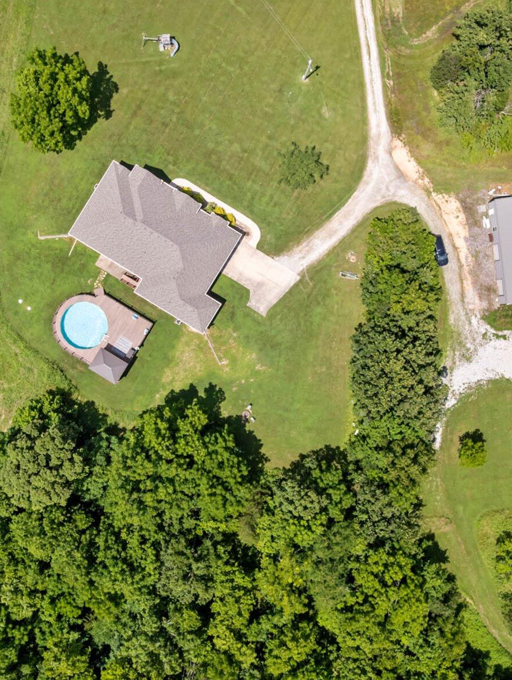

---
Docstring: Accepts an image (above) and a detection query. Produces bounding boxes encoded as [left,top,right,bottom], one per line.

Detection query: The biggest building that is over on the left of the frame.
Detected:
[68,160,242,334]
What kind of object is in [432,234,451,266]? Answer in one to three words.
car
